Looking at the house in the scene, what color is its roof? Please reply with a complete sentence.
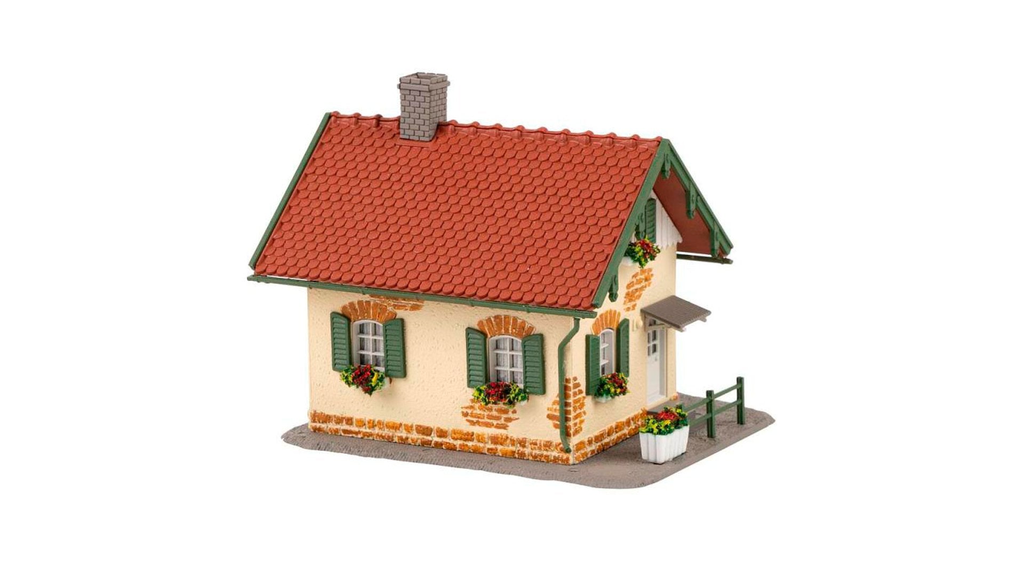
The color of the roof on the house is red.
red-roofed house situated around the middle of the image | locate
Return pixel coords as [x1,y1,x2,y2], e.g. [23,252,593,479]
[246,74,738,466]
